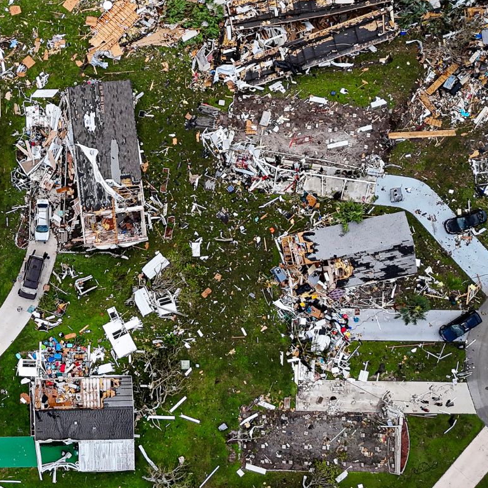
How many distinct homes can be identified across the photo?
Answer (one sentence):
The picture shows 3 homes.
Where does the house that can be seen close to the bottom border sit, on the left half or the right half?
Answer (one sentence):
You can find the house that can be seen close to the bottom border on the left side of the picture.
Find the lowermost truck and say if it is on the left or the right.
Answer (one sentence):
The lowermost truck is on the right side of the image.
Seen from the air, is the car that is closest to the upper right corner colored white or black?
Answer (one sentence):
The car that is closest to the upper right corner looks black in the image.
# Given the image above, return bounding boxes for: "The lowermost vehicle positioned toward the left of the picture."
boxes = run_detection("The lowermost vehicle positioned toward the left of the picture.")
[19,254,44,300]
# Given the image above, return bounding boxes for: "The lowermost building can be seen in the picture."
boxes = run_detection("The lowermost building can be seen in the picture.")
[33,371,134,481]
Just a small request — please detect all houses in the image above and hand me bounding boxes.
[33,371,134,481]
[68,81,148,246]
[270,211,418,292]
